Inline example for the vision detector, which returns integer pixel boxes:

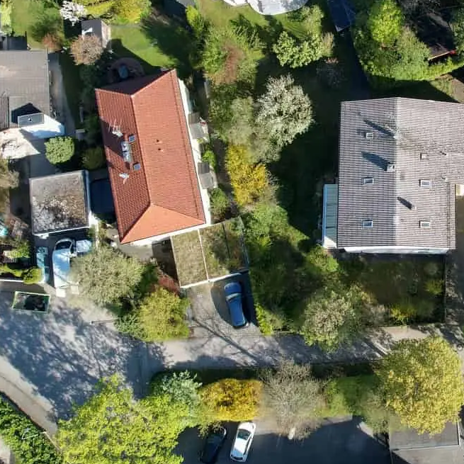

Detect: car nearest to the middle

[223,281,248,330]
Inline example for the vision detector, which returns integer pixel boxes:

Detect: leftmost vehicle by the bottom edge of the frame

[198,421,229,464]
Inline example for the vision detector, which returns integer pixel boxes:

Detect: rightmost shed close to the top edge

[416,14,455,63]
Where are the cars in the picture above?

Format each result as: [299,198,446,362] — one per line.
[227,417,256,464]
[198,421,229,464]
[223,281,248,330]
[50,238,73,285]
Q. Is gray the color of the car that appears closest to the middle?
No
